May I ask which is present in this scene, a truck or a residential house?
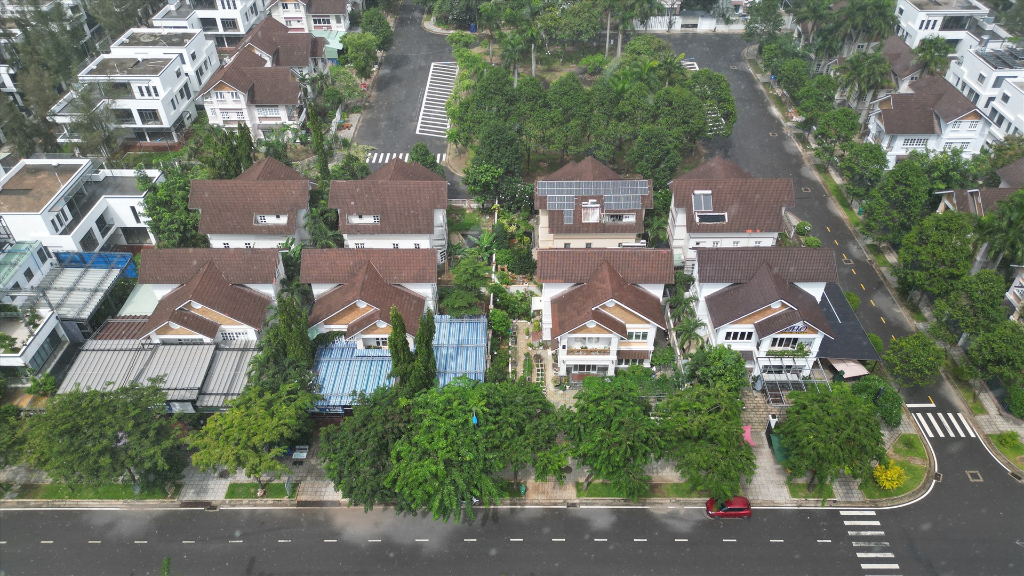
residential house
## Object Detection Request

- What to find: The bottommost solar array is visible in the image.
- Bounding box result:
[536,180,651,223]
